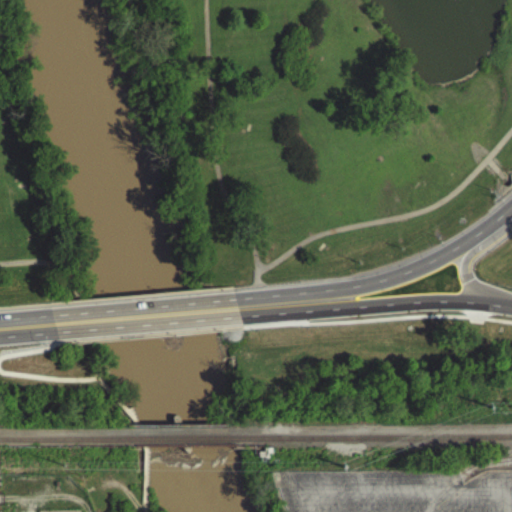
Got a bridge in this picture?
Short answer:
Yes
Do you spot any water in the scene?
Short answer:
Yes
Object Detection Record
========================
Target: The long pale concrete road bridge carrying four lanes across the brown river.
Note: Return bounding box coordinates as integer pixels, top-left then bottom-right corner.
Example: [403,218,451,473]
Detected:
[52,288,244,346]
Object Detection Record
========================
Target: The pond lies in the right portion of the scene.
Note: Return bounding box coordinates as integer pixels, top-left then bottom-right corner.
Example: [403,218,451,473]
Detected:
[376,0,503,86]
